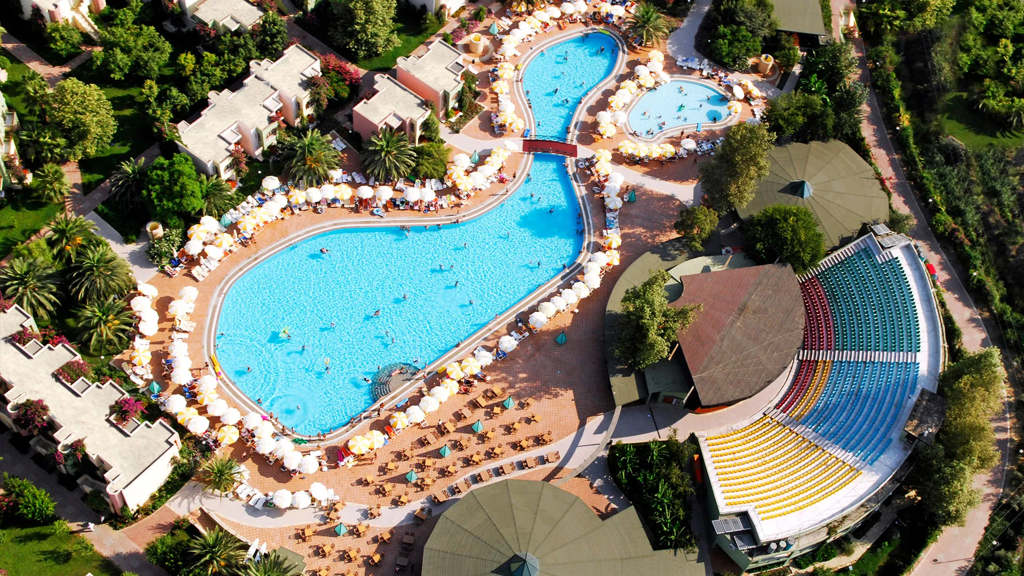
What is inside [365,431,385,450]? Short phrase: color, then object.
white umbrella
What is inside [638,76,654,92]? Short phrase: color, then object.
white umbrella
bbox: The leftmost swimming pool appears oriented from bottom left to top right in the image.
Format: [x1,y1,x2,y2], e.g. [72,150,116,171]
[214,32,619,435]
